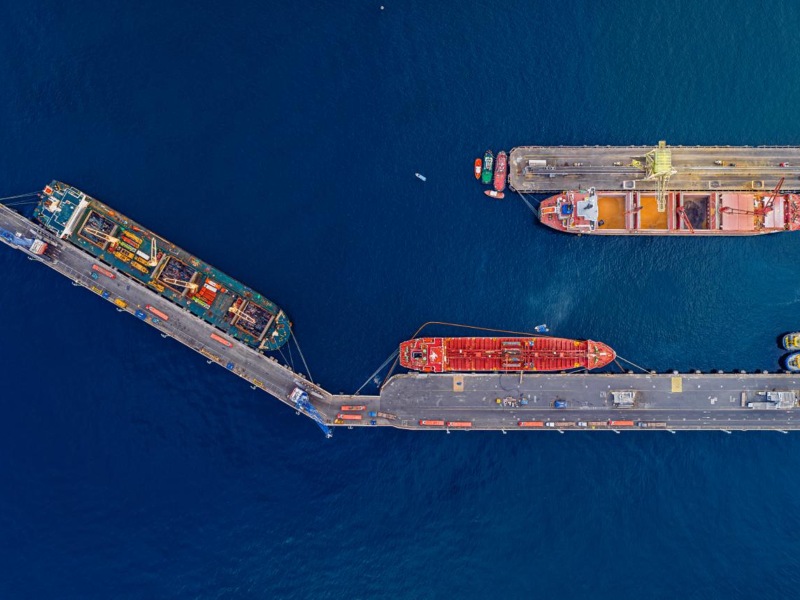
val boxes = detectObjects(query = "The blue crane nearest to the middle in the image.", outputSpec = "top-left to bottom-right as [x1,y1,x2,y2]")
[290,384,332,439]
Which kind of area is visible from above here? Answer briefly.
port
